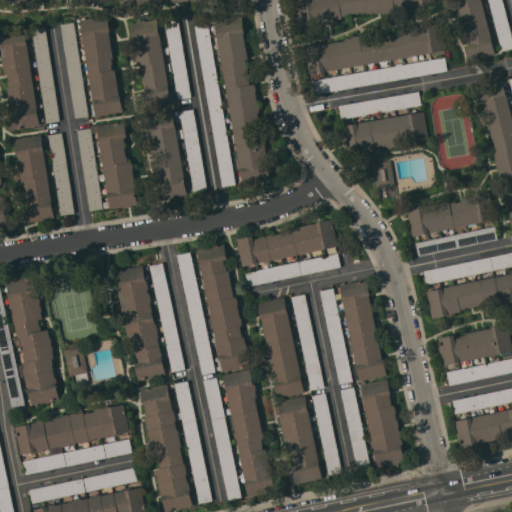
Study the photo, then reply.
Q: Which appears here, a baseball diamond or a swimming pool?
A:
swimming pool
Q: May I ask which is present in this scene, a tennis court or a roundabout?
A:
tennis court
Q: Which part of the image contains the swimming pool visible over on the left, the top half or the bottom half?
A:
bottom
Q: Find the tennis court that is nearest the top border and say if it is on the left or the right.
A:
right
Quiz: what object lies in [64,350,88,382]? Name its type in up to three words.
building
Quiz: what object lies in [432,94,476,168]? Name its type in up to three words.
tennis court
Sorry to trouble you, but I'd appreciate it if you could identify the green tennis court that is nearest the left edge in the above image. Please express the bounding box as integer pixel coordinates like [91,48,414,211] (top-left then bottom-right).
[55,285,98,340]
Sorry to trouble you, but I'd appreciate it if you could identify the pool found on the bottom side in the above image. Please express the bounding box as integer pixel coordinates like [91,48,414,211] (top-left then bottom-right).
[88,340,125,385]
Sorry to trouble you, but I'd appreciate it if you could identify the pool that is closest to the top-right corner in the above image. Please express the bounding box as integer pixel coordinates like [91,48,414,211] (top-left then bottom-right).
[393,152,435,193]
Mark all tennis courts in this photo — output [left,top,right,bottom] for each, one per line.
[432,94,476,168]
[55,285,98,340]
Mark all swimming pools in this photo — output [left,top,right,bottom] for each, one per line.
[393,152,435,193]
[88,340,125,385]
